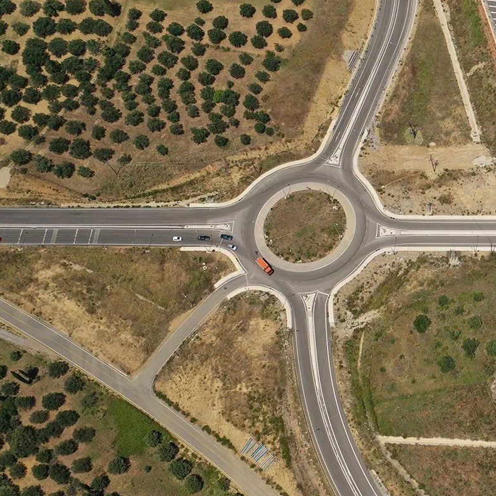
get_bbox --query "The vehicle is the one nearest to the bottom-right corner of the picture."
[255,256,274,275]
